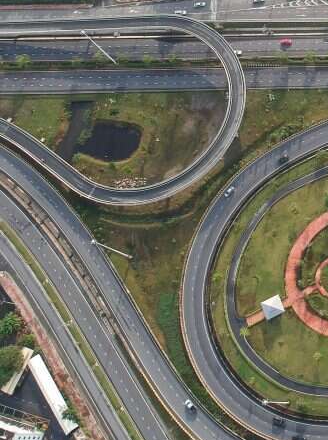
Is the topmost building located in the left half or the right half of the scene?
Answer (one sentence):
The topmost building appears in the right half of the scene.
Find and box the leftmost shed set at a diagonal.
[1,348,37,394]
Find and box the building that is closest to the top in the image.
[261,294,285,320]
